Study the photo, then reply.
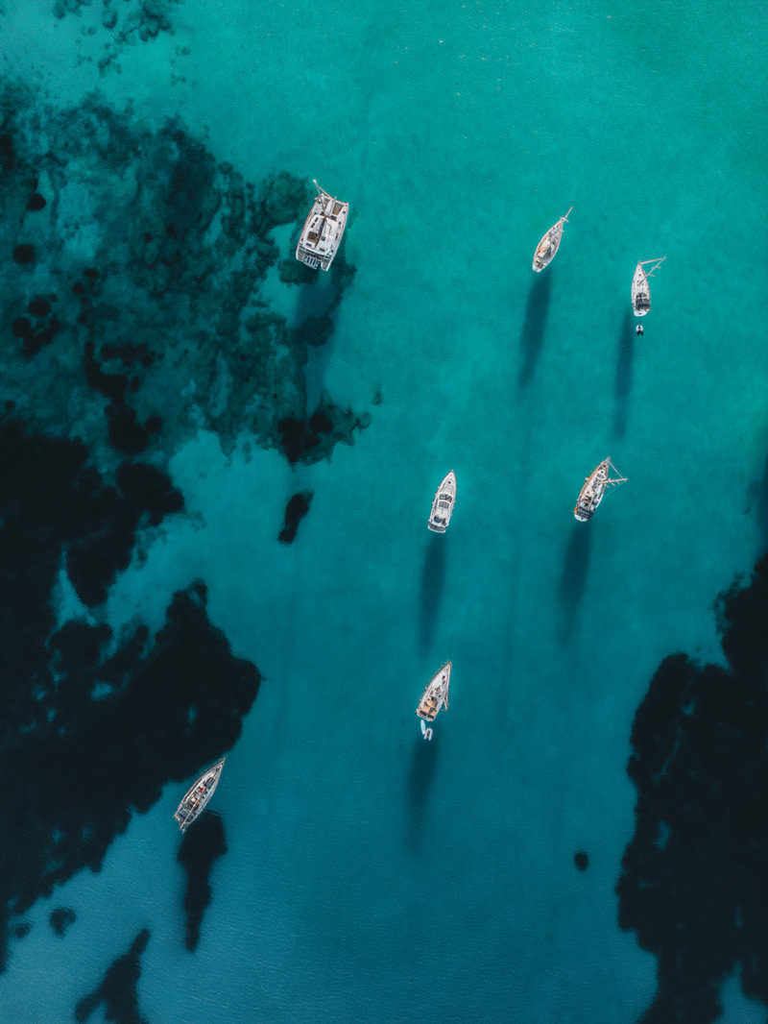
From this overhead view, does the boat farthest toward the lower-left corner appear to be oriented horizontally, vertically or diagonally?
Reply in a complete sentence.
The boat farthest toward the lower-left corner has been laid out diagonally relative to the frame.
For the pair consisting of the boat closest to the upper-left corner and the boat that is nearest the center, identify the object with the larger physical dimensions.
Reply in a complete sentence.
The boat closest to the upper-left corner is larger than the boat that is nearest the center.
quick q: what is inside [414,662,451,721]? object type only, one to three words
boat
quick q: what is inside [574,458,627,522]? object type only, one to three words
boat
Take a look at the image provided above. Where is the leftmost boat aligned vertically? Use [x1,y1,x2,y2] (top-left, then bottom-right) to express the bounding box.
[296,182,349,272]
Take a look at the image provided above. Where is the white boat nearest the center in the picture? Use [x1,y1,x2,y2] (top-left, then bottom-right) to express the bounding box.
[428,470,457,533]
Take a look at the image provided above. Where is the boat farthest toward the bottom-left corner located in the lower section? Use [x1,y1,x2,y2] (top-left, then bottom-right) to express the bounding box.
[174,758,225,832]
